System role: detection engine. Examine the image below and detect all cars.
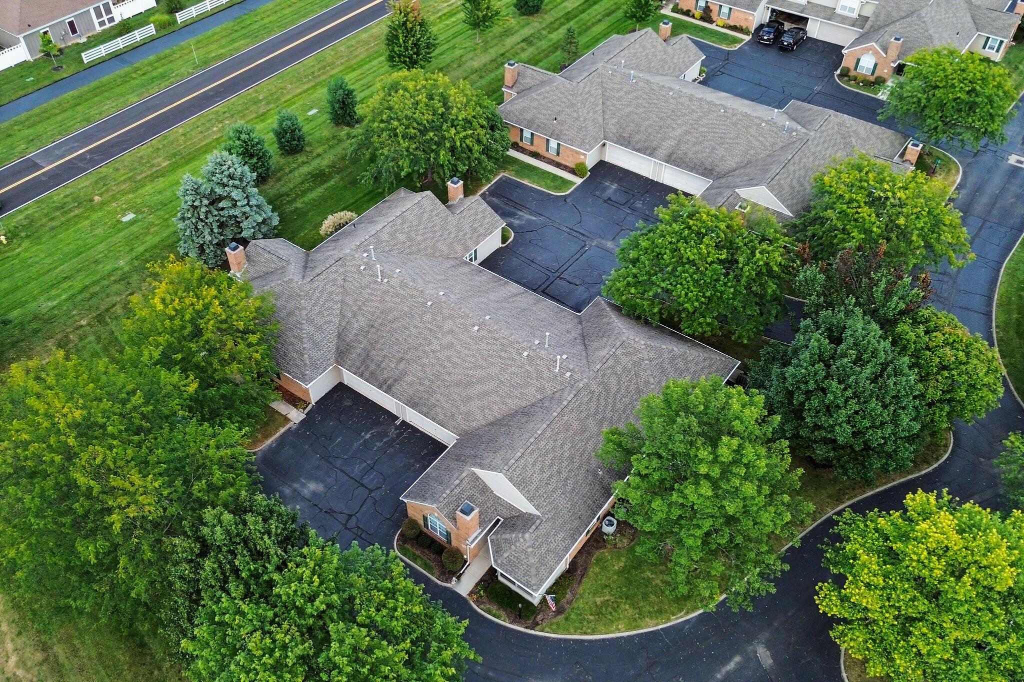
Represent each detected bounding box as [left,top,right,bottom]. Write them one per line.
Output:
[760,21,787,41]
[779,26,808,47]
